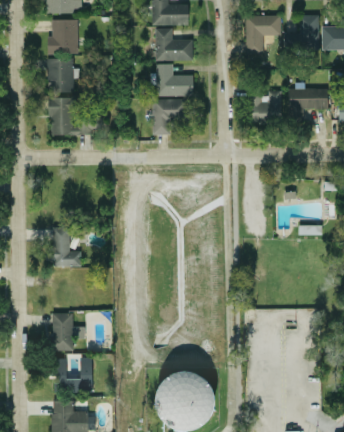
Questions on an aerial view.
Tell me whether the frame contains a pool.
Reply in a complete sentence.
Yes, there's a pool here.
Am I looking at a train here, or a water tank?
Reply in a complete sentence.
Of the two, only a water tank appears.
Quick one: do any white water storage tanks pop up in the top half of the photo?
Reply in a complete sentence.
No, no white water storage tank appears in the top half of the photo.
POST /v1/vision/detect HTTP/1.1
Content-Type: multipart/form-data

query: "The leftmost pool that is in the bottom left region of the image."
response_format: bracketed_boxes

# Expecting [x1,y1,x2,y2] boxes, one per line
[66,354,81,379]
